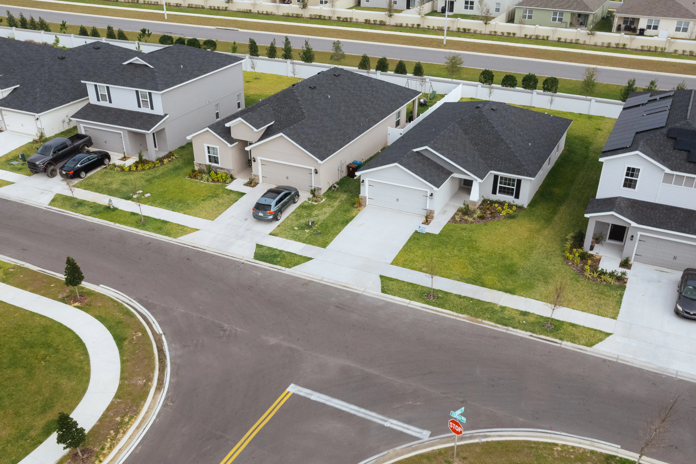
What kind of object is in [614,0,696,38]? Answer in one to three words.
house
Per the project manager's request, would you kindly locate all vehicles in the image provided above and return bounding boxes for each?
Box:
[25,136,91,176]
[252,186,300,221]
[57,150,111,179]
[676,263,696,315]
